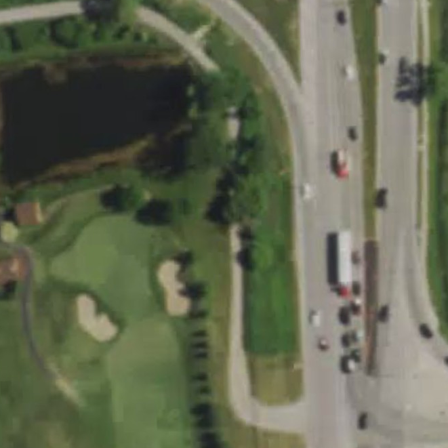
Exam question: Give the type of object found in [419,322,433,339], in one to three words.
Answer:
vehicle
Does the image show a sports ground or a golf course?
golf course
